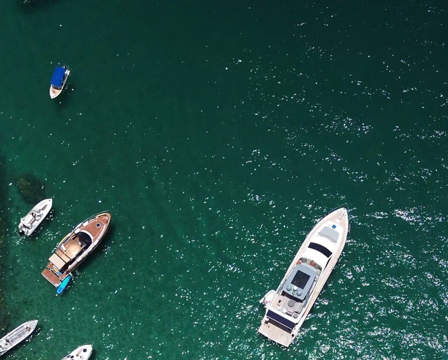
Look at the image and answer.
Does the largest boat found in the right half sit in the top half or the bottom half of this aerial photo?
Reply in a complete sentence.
You can find the largest boat found in the right half in the bottom half.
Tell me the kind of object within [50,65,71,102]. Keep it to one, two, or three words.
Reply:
boat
